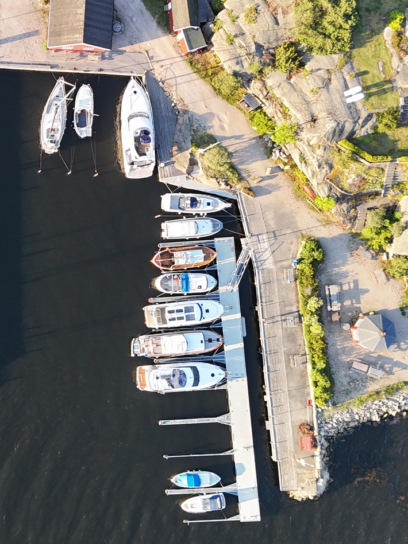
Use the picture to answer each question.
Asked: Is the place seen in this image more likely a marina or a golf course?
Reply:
marina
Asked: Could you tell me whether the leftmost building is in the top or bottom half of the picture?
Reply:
top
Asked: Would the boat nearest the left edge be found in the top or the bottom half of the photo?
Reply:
top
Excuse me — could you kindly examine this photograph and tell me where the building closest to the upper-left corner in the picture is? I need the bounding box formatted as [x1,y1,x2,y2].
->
[47,0,114,54]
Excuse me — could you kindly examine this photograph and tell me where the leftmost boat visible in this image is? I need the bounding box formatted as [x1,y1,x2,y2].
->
[40,71,73,171]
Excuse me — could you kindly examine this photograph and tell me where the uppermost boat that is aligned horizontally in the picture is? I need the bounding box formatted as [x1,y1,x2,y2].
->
[155,187,242,219]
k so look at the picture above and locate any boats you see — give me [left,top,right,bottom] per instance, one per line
[132,362,231,393]
[155,216,242,240]
[40,71,73,171]
[153,269,217,296]
[129,326,225,358]
[167,466,222,488]
[118,72,156,184]
[179,490,227,514]
[139,295,228,327]
[155,187,242,219]
[150,245,217,270]
[70,85,96,171]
